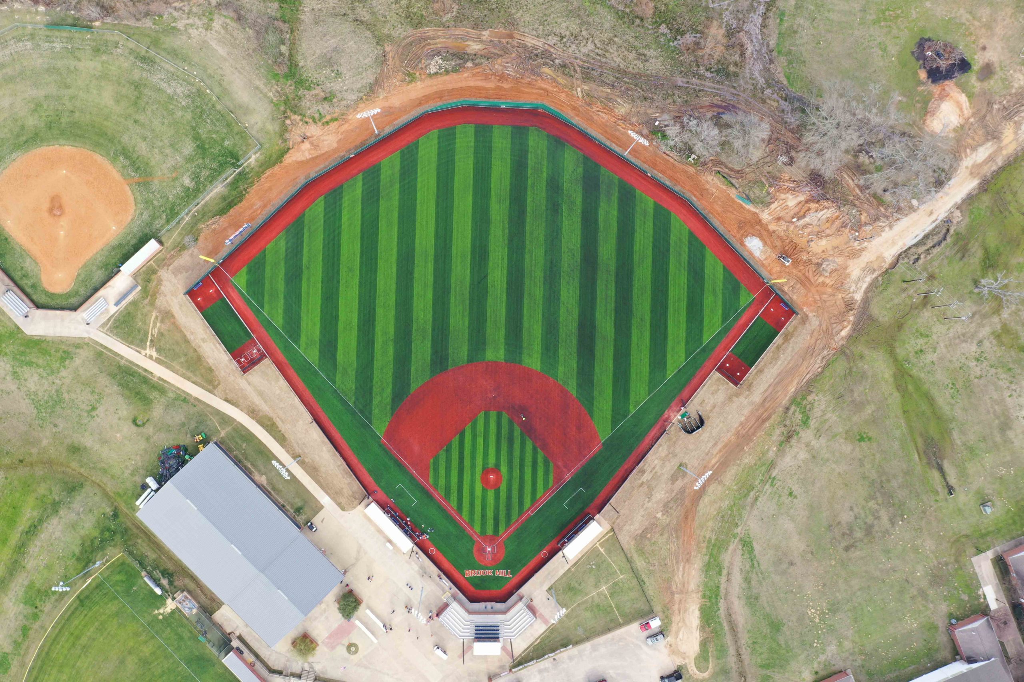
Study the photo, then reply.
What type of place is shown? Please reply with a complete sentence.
This image shows a sports ground.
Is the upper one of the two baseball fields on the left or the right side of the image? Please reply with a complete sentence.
You can find the upper one of the two baseball fields on the left side of the picture.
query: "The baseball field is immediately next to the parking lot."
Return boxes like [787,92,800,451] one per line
[190,107,797,603]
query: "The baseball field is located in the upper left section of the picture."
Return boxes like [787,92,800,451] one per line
[0,25,255,309]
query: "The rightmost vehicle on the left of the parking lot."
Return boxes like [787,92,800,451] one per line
[432,645,449,661]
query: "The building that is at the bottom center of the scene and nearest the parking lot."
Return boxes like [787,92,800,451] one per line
[474,637,503,655]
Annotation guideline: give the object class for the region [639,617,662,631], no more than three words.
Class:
vehicle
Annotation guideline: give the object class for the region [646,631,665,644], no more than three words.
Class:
vehicle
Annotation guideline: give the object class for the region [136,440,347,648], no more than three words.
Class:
building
